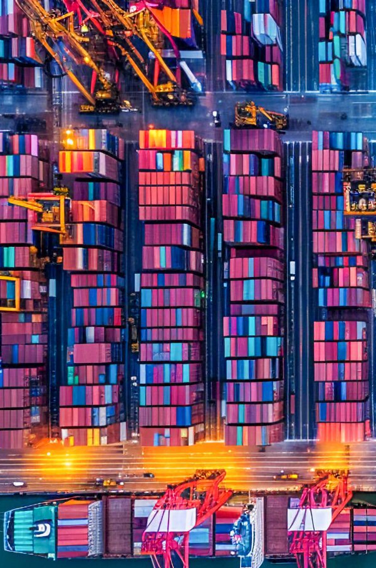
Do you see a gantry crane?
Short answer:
Yes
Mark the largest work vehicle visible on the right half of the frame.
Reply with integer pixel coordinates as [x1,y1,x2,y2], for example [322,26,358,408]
[234,102,289,128]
